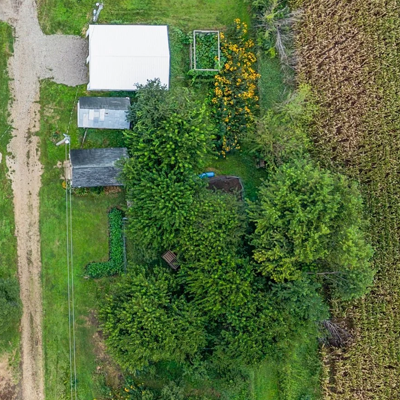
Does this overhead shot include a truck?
No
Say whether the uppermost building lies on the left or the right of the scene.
left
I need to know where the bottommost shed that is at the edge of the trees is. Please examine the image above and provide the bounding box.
[72,148,130,187]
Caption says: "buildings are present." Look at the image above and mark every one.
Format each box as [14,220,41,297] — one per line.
[72,148,130,187]
[78,97,130,129]
[89,25,170,90]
